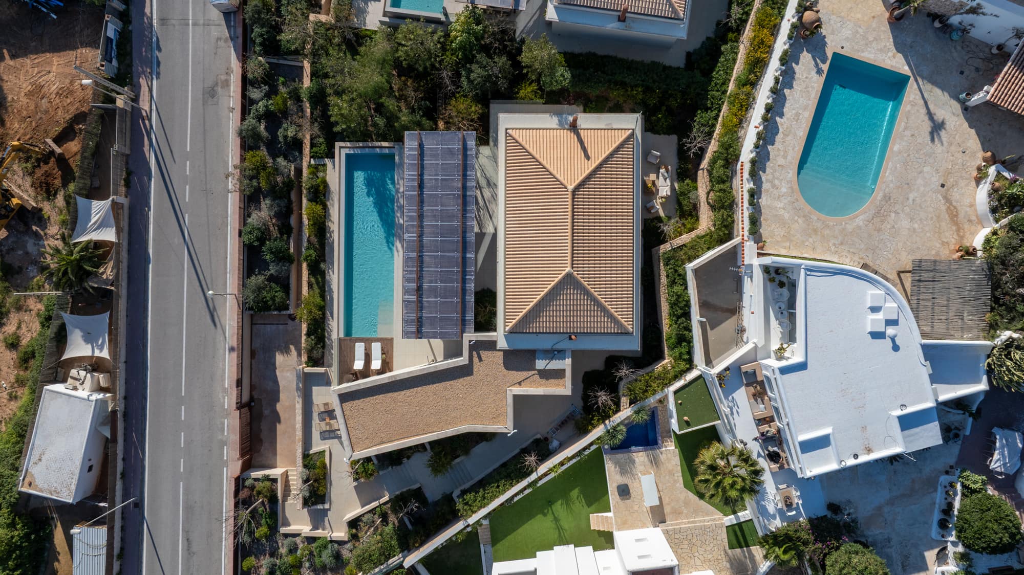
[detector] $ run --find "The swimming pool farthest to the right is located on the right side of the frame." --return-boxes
[792,46,916,218]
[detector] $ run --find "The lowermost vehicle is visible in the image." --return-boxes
[0,137,69,244]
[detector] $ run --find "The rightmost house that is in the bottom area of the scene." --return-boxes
[761,267,993,479]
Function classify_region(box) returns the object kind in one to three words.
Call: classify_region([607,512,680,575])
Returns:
house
